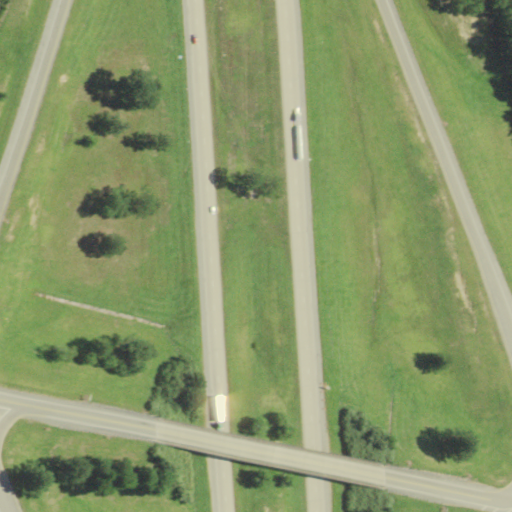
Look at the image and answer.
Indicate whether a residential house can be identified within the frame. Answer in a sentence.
No, there's no residential house here.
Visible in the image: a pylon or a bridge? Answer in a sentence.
The one in the frame is a bridge.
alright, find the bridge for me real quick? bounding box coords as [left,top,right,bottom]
[154,420,386,489]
